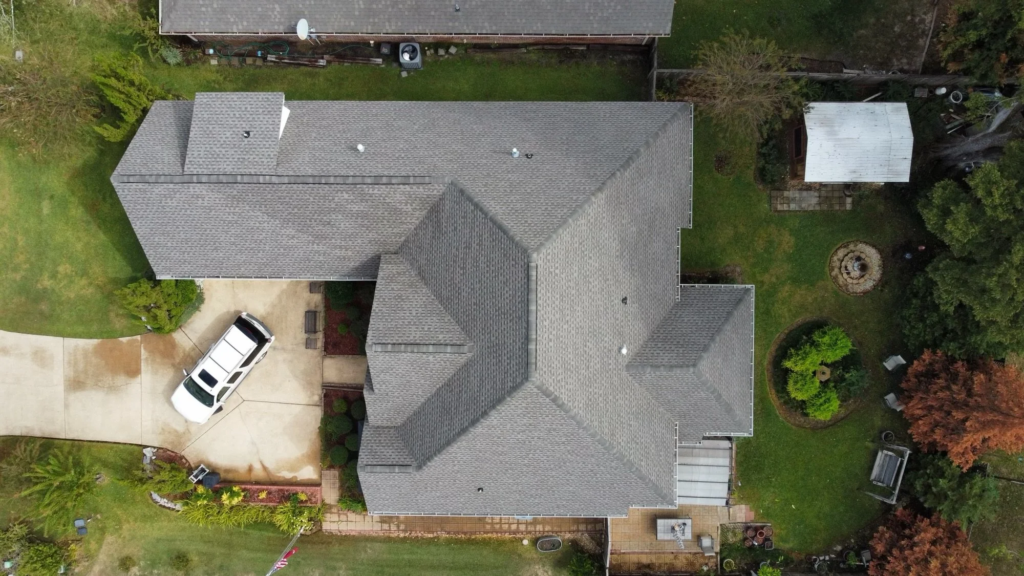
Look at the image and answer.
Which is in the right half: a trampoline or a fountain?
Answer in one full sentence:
The one visible in the right half is a fountain.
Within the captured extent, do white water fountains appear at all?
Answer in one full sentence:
No, the picture doesn't show any white water fountain.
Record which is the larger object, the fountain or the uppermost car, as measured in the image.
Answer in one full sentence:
The car is larger than the fountain.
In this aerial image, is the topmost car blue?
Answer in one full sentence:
No, the topmost car is actually white.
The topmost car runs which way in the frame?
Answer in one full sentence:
The topmost car is laid out at an angle.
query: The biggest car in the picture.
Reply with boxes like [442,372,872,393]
[173,310,279,425]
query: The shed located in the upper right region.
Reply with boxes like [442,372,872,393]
[791,102,914,183]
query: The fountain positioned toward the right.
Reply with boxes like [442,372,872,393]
[830,241,884,295]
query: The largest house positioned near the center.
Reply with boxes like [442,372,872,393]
[111,92,755,516]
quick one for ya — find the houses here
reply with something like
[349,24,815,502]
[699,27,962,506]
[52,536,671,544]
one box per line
[154,0,672,47]
[111,92,755,516]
